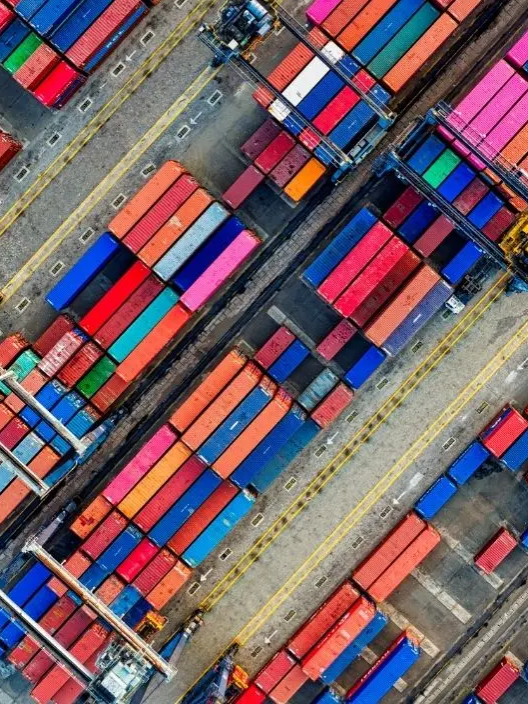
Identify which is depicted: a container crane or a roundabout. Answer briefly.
container crane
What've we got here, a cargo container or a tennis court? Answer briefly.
cargo container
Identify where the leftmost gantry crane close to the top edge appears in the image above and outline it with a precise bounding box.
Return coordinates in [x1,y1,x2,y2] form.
[193,0,402,176]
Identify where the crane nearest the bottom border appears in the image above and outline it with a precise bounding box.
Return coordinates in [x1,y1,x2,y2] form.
[171,644,251,704]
